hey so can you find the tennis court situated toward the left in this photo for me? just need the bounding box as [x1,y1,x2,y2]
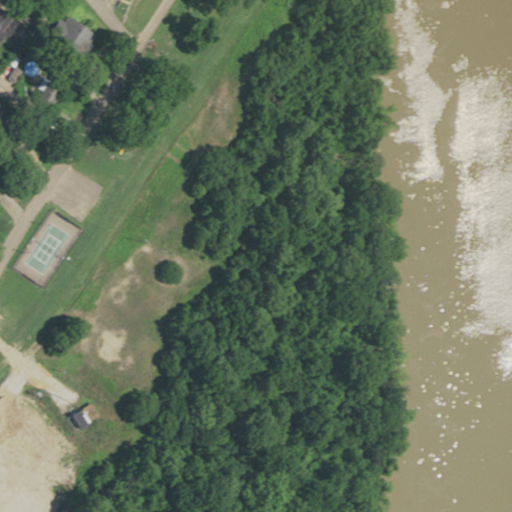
[14,210,82,288]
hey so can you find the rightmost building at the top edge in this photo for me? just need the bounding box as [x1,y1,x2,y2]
[60,19,94,53]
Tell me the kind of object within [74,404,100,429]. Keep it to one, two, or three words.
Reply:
house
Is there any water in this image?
Yes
